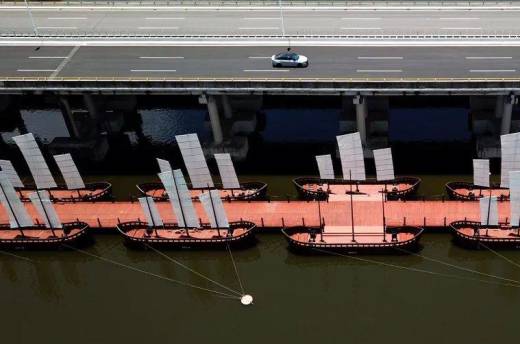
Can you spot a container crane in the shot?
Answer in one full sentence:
No, there appears to be no container crane in this shot.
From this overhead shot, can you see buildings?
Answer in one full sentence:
No, no building can be seen from above.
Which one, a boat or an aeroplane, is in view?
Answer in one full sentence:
There is a boat in the scene.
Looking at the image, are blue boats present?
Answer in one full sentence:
No, I find no blue boat anywhere in the image.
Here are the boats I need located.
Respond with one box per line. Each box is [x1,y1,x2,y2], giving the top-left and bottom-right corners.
[452,171,520,249]
[281,169,422,254]
[0,132,106,201]
[111,166,253,249]
[448,131,520,201]
[0,169,84,249]
[291,131,420,200]
[132,132,263,201]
